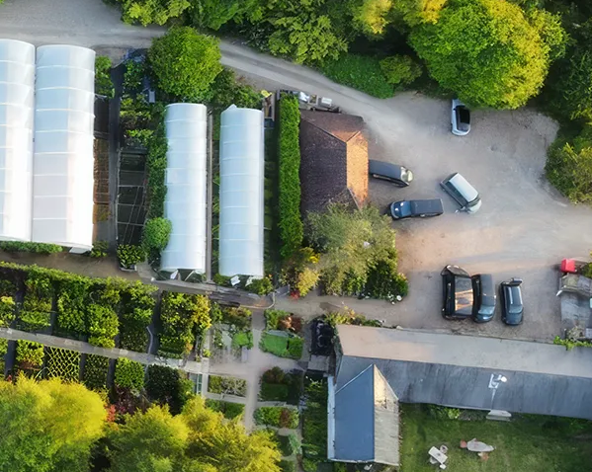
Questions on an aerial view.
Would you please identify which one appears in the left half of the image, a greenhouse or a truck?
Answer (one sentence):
The feature located in the left half of the image is a greenhouse.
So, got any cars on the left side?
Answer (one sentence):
No, there's no car to be seen on the left side.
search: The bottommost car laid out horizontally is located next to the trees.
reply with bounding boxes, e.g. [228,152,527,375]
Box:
[388,199,443,220]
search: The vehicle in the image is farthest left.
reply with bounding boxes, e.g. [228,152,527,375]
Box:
[368,161,411,187]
